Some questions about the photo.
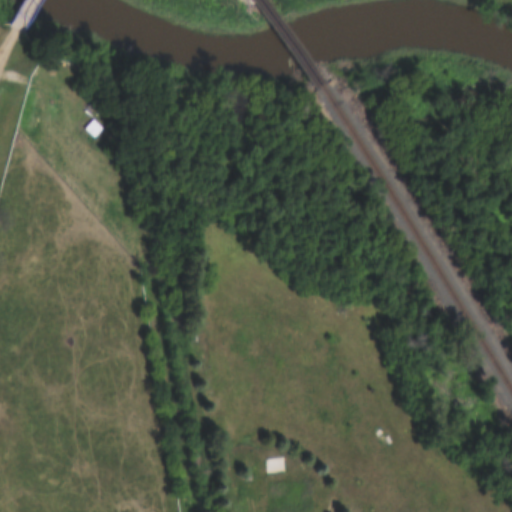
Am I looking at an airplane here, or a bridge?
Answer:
bridge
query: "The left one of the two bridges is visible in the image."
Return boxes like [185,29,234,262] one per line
[10,0,46,34]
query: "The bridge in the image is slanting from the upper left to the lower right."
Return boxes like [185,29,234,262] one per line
[256,0,336,98]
